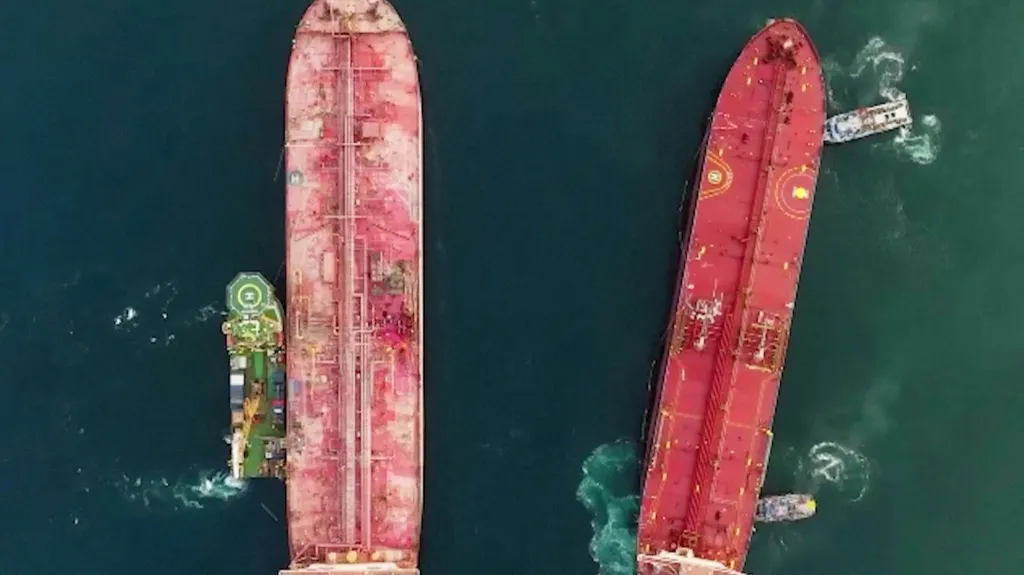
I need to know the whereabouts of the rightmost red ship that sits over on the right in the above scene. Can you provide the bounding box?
[637,17,827,575]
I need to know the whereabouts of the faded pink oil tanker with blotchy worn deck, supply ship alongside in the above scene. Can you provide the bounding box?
[279,0,425,575]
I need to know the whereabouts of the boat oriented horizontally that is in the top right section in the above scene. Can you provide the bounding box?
[823,99,910,142]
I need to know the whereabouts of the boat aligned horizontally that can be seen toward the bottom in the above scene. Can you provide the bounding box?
[755,493,818,524]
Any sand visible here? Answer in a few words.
No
